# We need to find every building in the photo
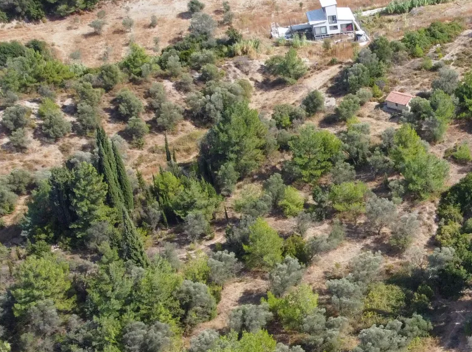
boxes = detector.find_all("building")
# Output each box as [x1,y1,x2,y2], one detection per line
[382,89,418,113]
[302,0,354,37]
